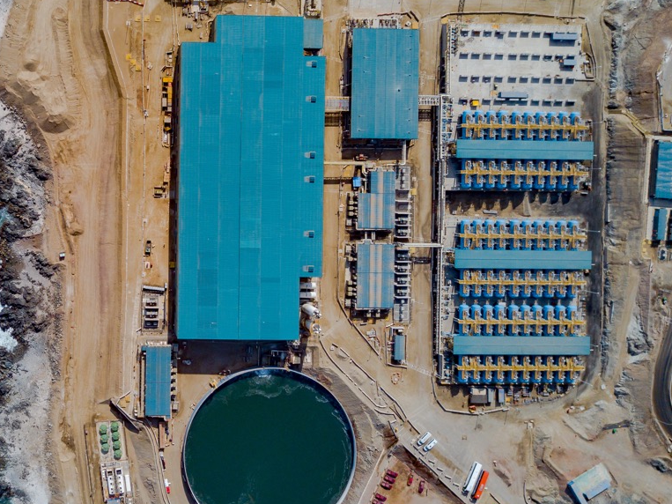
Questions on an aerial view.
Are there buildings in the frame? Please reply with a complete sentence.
Yes, the image includes a building.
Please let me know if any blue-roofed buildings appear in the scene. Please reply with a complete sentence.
Yes, there's a blue-roofed building here.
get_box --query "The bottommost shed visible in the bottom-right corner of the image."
[568,463,611,504]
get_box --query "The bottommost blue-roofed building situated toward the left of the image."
[145,342,172,416]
